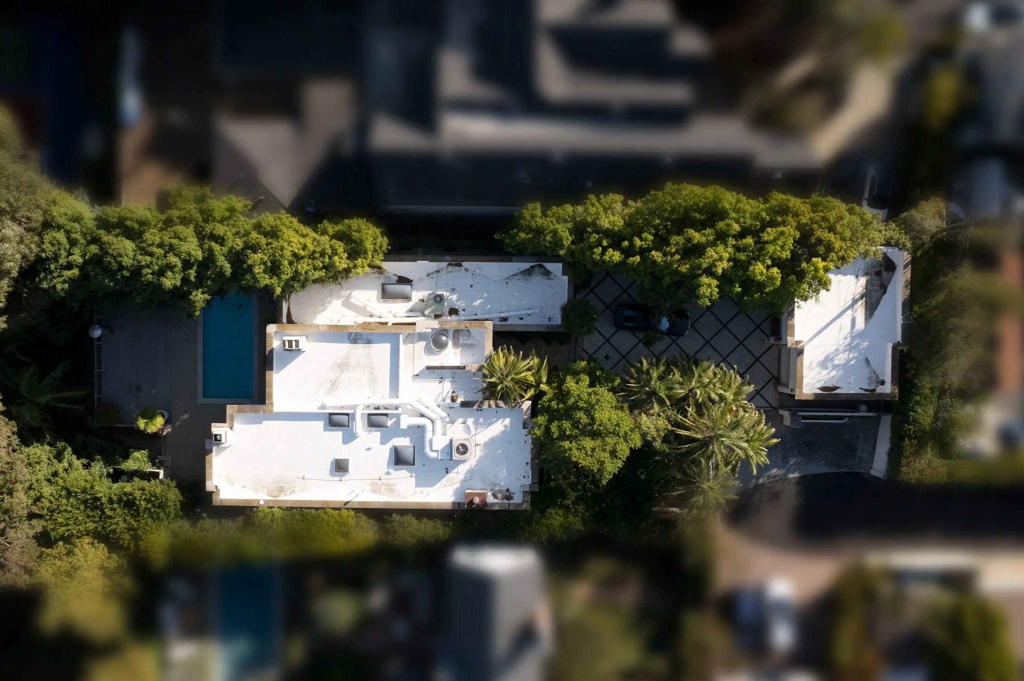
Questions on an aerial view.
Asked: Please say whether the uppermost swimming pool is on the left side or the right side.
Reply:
left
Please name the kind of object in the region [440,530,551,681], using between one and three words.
house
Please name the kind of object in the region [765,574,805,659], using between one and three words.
car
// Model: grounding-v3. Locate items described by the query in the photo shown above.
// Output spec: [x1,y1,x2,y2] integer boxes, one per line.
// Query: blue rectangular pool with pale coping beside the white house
[198,279,260,404]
